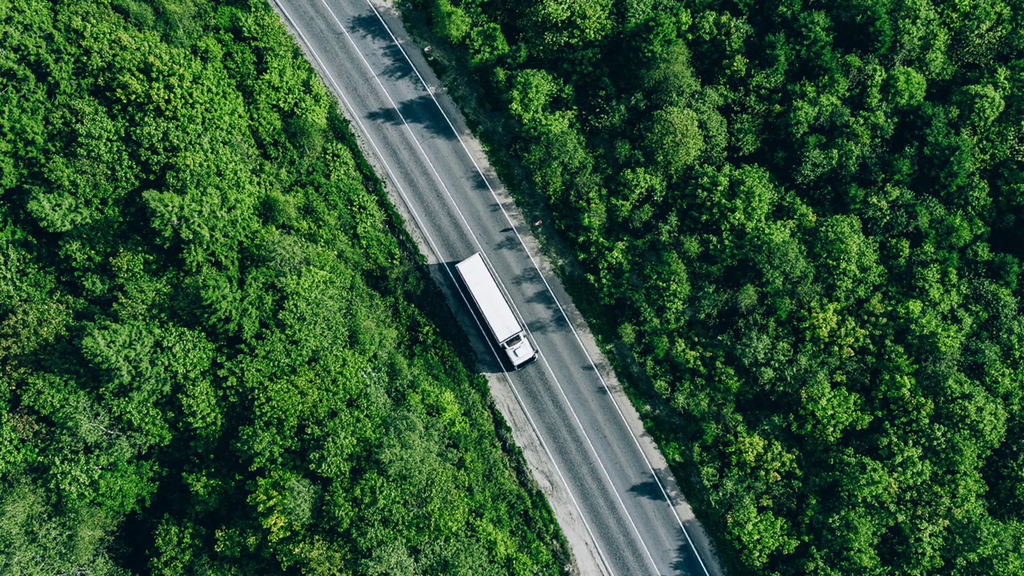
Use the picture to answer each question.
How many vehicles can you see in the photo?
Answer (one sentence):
I count just 1 vehicle.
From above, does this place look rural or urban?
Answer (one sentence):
This place is rural.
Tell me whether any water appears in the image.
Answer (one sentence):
No, there's no water in this view.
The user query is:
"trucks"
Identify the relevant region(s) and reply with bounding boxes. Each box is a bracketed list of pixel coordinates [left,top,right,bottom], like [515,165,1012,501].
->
[455,252,539,369]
